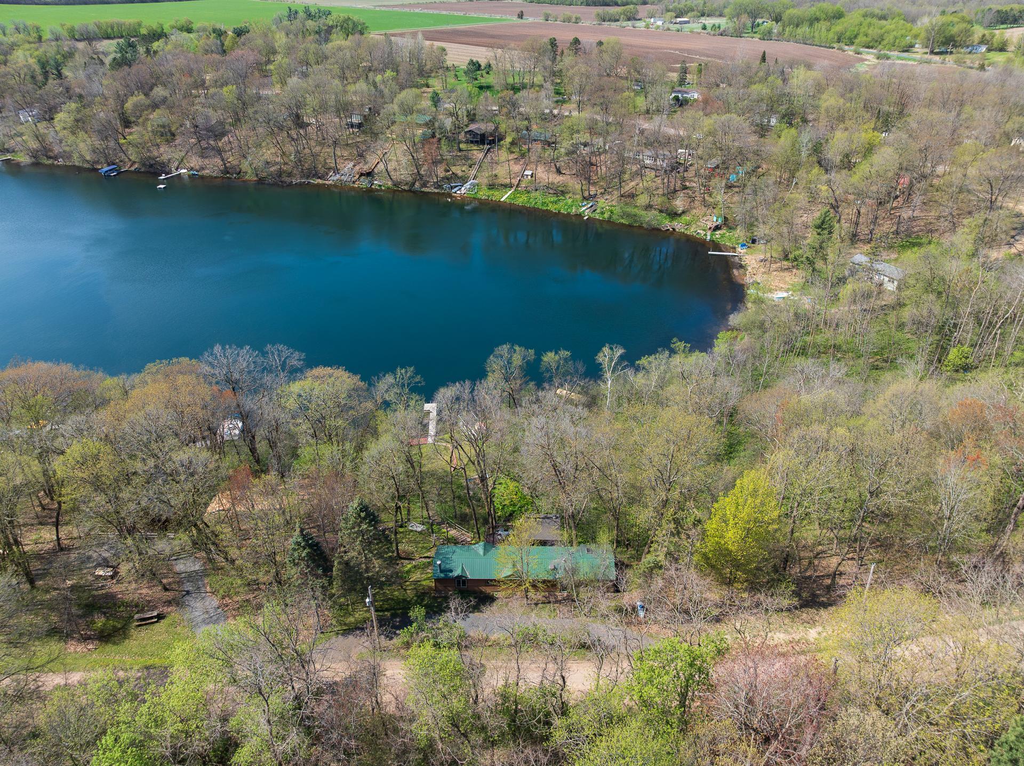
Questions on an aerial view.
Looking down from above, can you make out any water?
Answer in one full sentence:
Yes, there's water in this view.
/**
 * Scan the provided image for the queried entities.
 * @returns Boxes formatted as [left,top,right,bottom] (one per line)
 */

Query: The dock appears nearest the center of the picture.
[422,400,441,444]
